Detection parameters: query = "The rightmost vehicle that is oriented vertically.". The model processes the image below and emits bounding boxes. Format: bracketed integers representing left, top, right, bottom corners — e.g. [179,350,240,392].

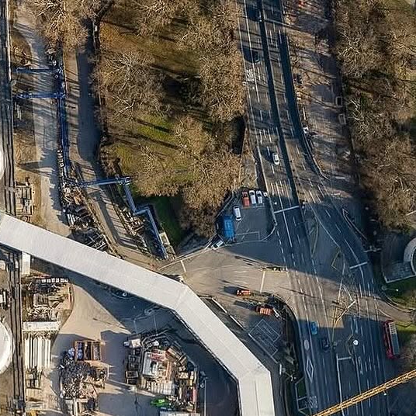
[386,315,401,360]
